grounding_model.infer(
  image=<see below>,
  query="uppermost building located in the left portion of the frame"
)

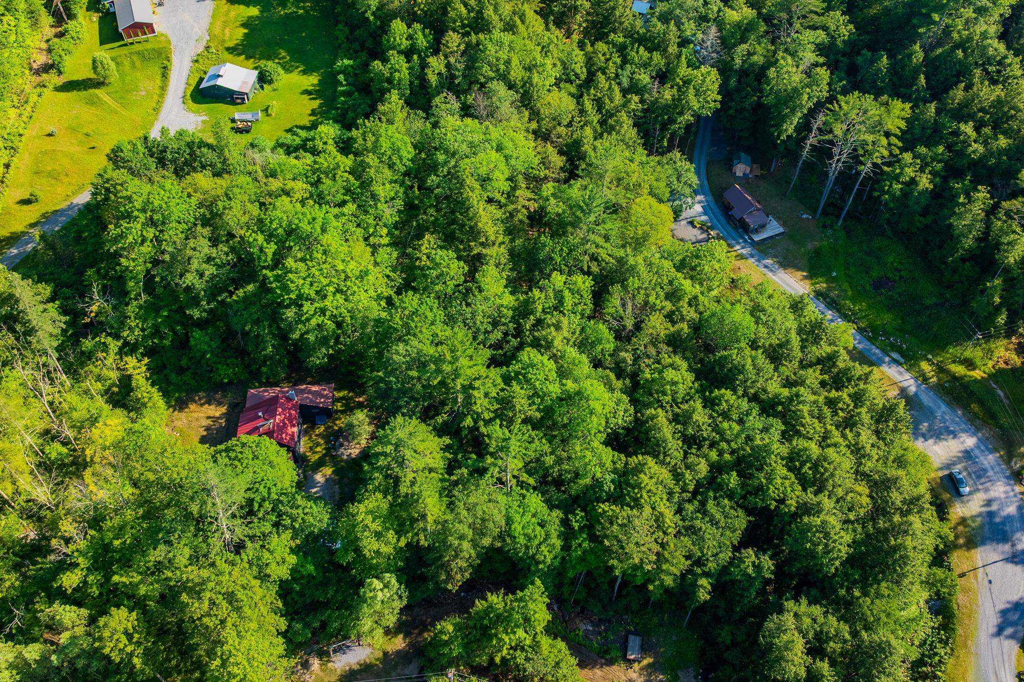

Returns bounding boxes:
[96,0,157,39]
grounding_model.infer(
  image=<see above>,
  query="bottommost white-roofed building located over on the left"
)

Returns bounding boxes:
[199,61,264,102]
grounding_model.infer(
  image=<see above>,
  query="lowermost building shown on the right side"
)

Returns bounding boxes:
[713,184,768,235]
